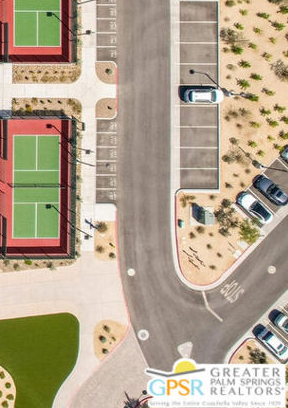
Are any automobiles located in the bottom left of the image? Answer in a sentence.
No, the scene shows no automobile in the bottom left of the image.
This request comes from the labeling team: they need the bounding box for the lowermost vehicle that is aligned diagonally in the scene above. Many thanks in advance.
[253,325,288,357]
